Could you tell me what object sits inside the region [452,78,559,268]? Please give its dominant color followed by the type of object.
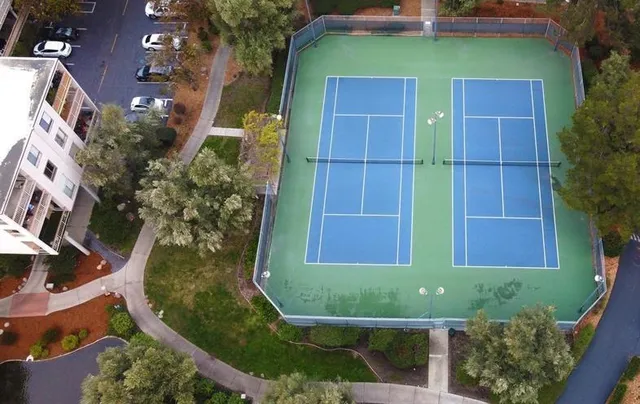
blue tennis court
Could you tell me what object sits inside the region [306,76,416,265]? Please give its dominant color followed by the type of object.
blue tennis court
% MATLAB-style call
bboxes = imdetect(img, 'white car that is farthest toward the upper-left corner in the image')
[34,41,72,59]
